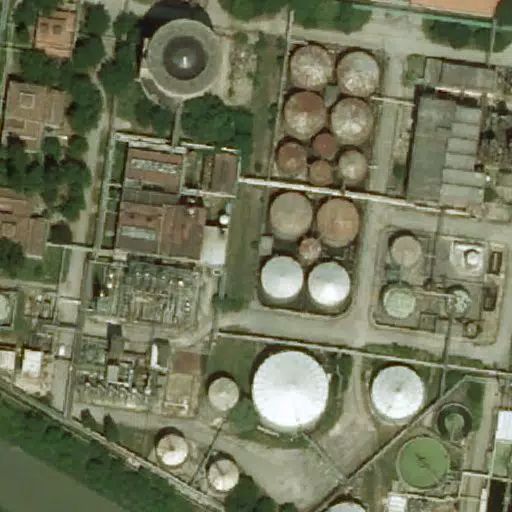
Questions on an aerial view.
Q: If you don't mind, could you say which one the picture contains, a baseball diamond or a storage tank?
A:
storage tank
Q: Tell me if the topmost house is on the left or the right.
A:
left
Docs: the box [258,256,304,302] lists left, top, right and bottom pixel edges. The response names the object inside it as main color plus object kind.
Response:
white storage tank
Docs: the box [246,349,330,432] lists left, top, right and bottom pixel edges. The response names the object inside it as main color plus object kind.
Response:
white storage tank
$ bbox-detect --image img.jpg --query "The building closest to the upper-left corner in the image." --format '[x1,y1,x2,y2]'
[34,9,77,59]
